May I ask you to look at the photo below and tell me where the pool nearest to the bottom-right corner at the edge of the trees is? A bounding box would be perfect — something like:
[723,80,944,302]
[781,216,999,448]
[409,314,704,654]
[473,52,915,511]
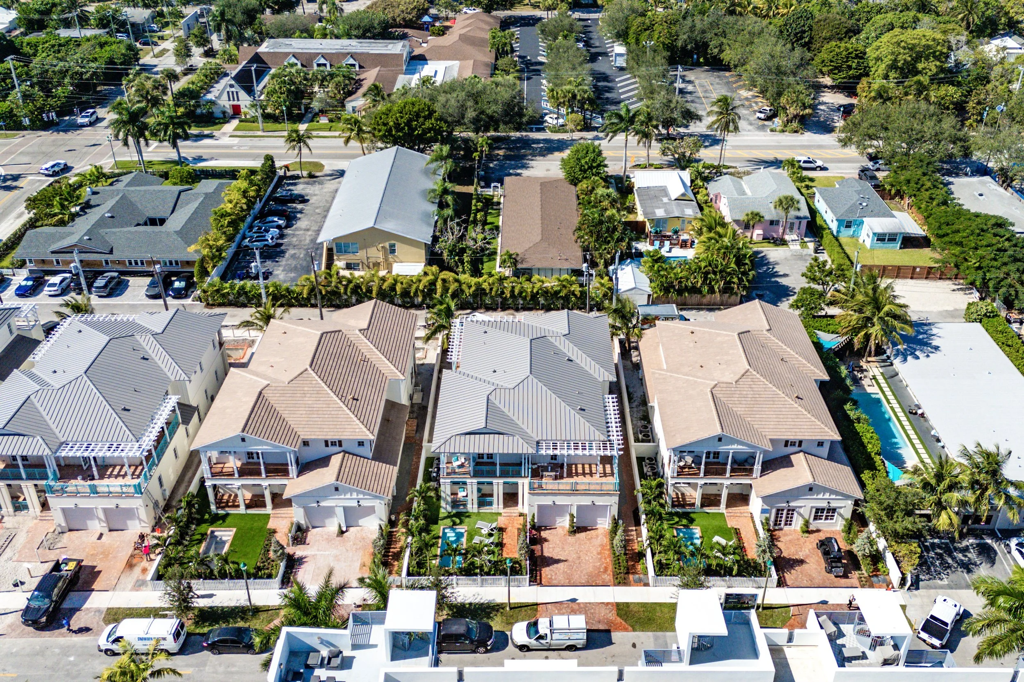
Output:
[856,390,924,463]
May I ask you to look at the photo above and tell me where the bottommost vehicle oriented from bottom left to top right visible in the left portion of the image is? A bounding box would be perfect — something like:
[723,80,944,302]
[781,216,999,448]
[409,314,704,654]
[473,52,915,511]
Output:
[16,566,80,633]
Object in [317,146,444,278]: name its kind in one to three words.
building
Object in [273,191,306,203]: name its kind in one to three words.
vehicle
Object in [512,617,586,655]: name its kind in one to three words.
truck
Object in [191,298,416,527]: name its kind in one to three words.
house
